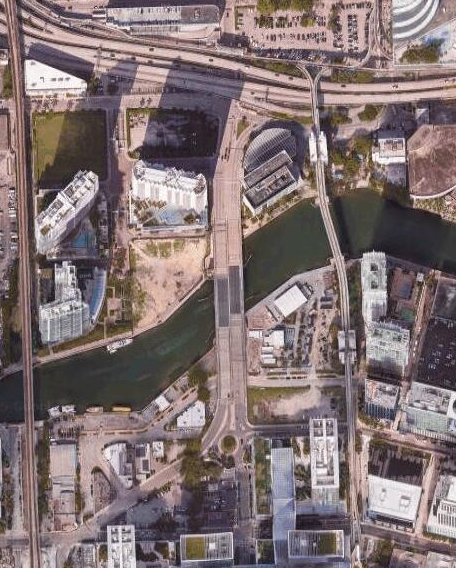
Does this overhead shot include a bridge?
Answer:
Yes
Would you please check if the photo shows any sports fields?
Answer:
Yes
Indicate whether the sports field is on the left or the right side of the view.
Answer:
left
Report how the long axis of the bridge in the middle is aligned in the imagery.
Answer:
up and down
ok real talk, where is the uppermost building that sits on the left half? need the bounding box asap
[99,5,221,43]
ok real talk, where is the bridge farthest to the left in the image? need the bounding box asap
[7,0,40,568]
